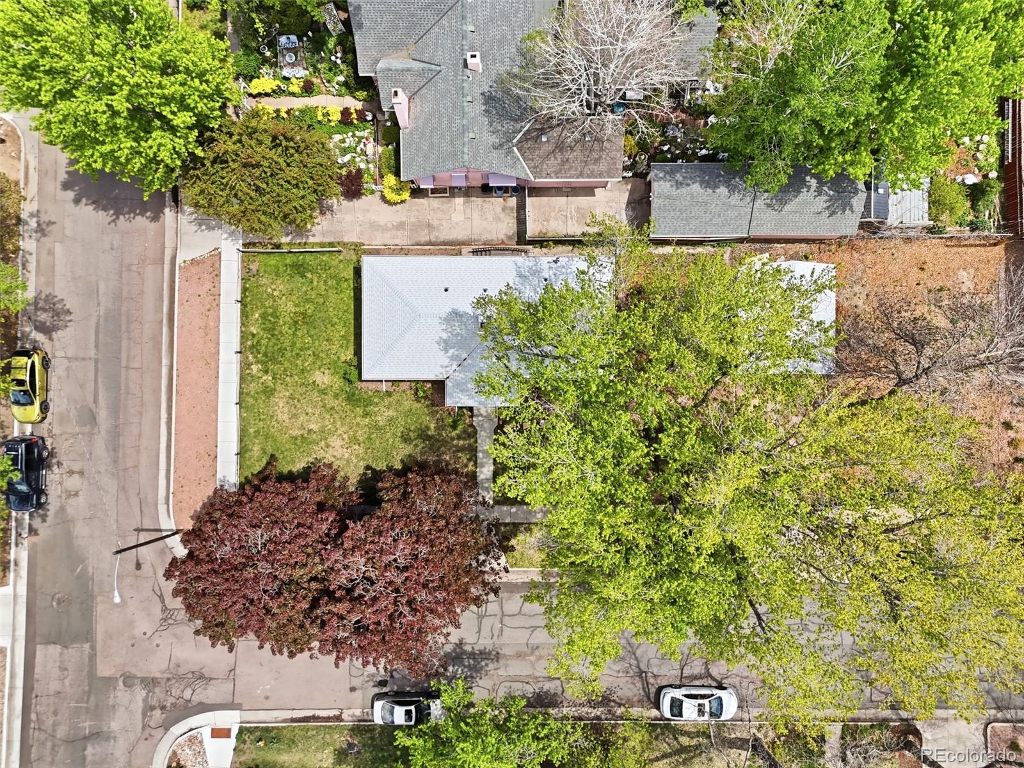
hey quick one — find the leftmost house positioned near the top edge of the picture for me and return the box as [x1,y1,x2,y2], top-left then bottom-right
[351,0,624,197]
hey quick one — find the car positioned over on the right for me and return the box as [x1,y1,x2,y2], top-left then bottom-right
[659,684,739,726]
